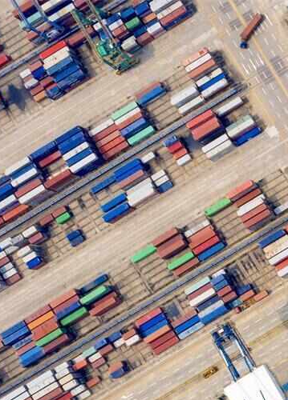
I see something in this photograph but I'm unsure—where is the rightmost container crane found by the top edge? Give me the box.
[80,0,146,62]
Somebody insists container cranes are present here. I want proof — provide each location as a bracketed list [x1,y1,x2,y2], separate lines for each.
[207,327,287,400]
[80,0,146,62]
[5,0,66,46]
